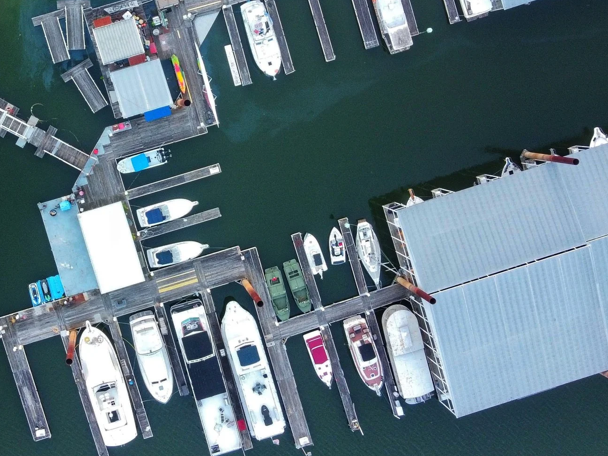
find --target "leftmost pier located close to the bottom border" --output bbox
[1,338,51,442]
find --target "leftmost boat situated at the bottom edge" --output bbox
[77,320,137,447]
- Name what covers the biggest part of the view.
water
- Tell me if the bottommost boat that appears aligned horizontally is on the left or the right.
left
